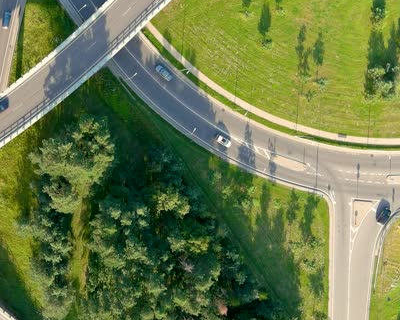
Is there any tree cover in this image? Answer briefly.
Yes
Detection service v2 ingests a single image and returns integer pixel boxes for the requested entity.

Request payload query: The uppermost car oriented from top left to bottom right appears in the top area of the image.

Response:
[155,64,174,82]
